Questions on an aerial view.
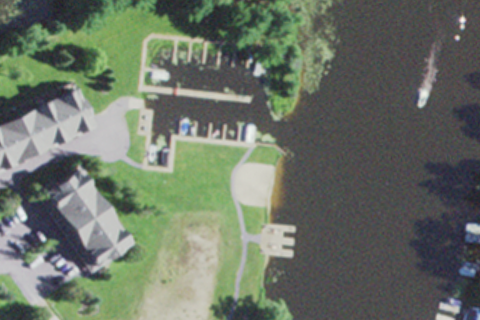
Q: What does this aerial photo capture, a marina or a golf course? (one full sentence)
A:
The picture captures a marina.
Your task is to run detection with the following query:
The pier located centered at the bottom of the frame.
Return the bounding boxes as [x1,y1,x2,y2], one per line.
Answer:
[260,224,296,258]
